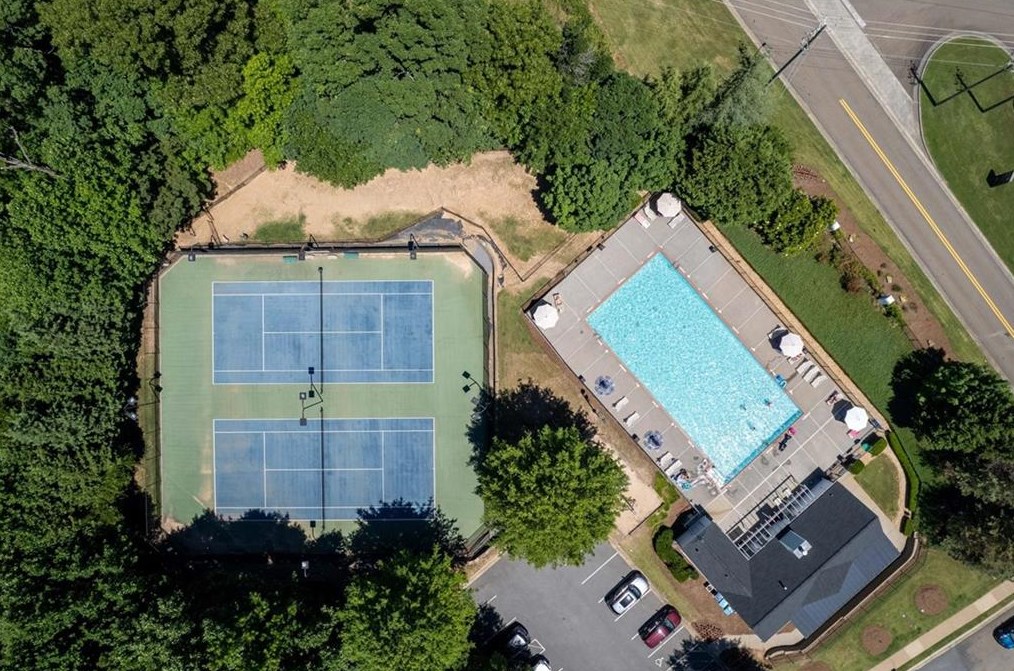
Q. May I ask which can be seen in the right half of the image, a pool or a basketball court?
pool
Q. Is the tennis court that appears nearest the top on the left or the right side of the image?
left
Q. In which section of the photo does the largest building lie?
bottom right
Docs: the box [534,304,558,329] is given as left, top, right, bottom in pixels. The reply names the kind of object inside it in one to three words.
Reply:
umbrella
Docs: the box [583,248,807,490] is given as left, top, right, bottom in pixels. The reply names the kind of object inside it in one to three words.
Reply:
swimming pool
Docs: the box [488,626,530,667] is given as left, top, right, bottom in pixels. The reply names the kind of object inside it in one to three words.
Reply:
car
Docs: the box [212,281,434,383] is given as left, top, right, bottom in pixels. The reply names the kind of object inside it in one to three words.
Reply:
tennis court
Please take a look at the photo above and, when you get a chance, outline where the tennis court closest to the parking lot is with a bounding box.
[214,419,435,521]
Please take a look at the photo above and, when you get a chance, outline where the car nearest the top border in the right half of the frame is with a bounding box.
[604,573,647,615]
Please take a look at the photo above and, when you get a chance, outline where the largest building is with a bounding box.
[674,481,900,641]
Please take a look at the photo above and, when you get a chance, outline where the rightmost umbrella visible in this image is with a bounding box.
[844,406,868,431]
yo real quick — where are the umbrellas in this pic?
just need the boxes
[779,334,803,356]
[658,194,680,217]
[534,304,558,329]
[844,406,868,431]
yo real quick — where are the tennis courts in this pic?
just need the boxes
[214,419,435,521]
[212,281,434,383]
